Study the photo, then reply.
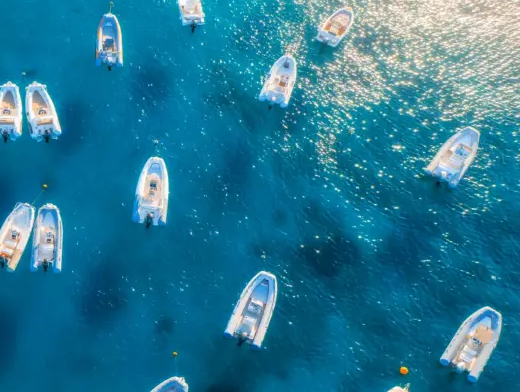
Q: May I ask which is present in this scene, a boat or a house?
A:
boat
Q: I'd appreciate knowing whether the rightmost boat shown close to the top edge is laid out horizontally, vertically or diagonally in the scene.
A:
diagonally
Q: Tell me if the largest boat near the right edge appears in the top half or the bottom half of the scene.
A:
bottom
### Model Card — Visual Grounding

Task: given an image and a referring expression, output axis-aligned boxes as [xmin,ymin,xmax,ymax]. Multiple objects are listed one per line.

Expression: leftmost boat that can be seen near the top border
[95,14,123,72]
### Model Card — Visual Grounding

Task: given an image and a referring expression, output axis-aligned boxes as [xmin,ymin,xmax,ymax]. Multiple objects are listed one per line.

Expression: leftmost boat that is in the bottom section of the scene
[0,201,34,274]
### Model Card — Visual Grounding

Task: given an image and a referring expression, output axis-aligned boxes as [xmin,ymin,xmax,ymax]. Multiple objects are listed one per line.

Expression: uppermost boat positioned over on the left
[177,0,205,31]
